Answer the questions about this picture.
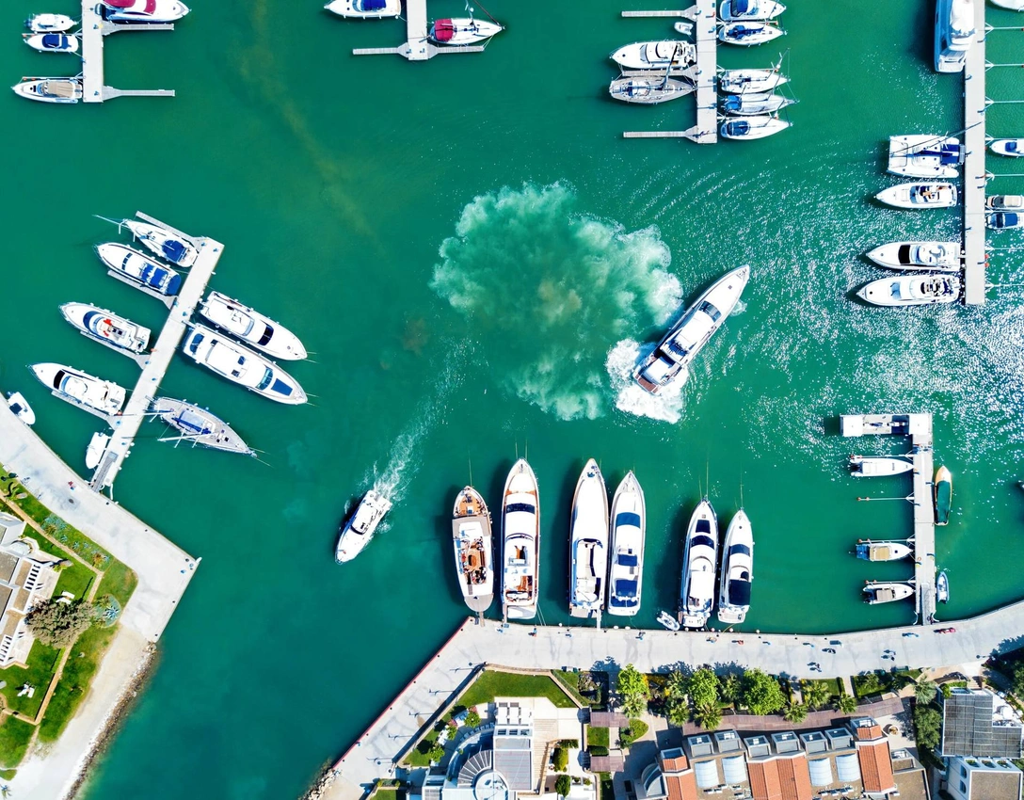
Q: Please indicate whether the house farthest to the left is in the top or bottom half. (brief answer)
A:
bottom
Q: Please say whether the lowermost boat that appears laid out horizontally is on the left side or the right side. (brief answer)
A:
right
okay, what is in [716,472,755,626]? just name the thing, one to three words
boat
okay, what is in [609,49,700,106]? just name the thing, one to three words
boat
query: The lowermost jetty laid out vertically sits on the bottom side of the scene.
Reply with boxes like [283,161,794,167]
[852,414,939,628]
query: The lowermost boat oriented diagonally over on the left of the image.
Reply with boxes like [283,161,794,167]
[338,491,391,562]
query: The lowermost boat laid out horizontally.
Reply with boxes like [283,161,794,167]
[860,582,914,602]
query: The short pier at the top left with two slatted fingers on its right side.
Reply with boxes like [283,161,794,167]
[24,0,176,106]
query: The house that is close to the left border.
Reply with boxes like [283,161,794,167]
[0,503,73,669]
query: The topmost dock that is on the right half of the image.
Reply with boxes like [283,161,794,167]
[621,0,734,146]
